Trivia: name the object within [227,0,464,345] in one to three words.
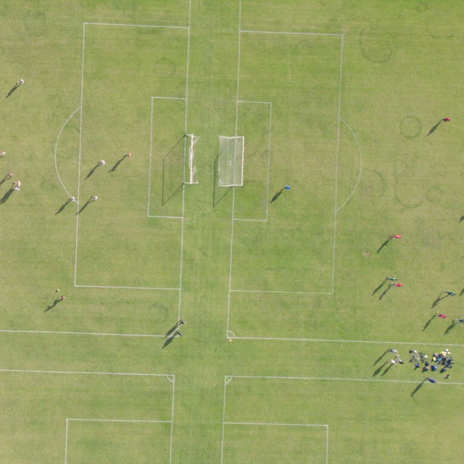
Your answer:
soccer field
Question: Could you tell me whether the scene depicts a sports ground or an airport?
sports ground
